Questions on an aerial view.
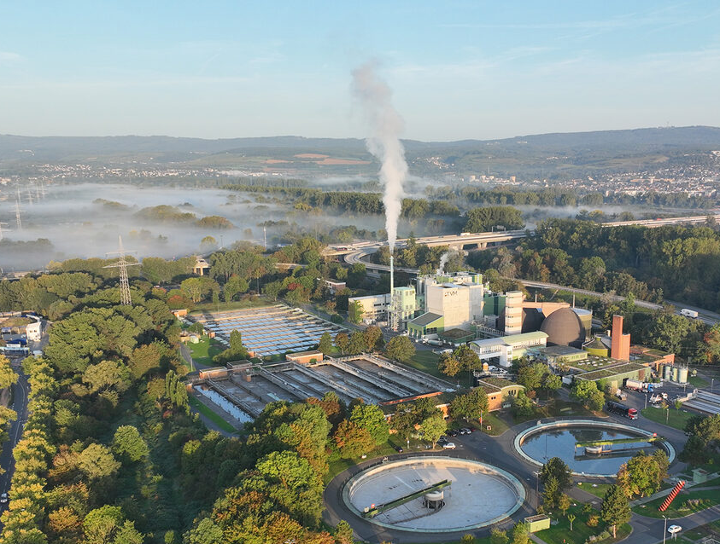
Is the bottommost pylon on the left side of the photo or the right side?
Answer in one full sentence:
The bottommost pylon appears in the left half of the scene.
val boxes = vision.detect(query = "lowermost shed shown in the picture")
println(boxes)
[525,510,548,533]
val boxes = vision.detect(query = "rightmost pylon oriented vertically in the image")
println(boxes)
[112,237,134,307]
